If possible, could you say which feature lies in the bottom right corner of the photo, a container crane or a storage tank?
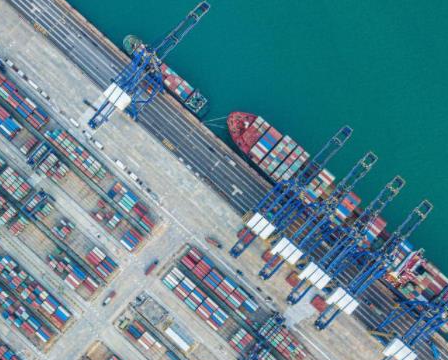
container crane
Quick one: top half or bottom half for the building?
bottom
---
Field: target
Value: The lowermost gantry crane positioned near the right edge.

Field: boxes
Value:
[368,289,448,360]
